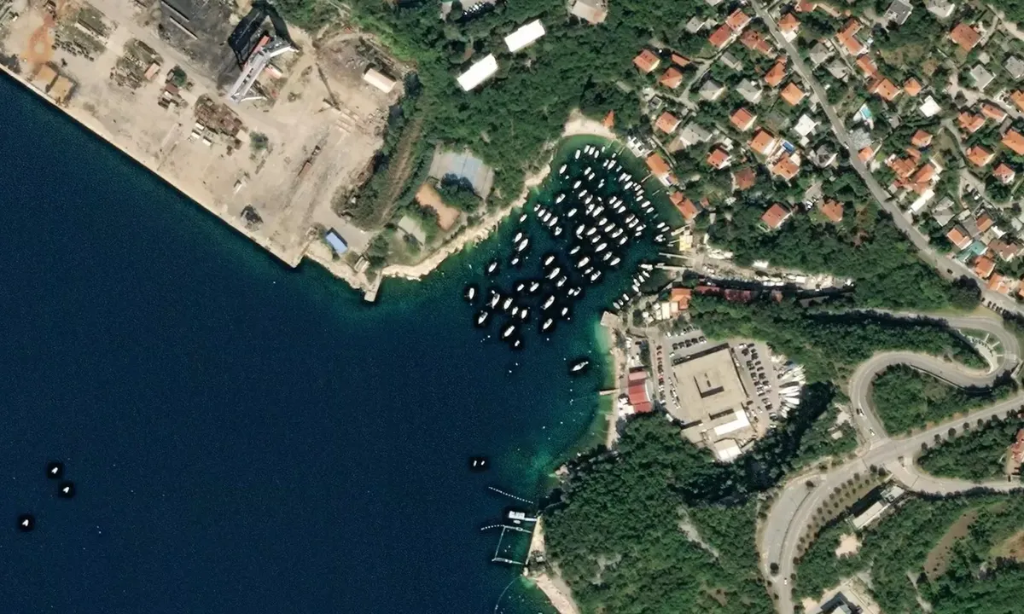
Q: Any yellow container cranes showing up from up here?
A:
No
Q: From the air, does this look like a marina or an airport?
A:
marina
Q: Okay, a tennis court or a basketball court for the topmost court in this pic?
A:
tennis court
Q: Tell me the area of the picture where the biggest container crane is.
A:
top left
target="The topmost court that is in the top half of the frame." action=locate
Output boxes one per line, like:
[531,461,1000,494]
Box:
[427,150,494,201]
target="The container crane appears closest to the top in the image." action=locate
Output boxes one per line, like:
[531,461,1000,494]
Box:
[227,32,303,103]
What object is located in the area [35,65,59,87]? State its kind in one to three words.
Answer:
shed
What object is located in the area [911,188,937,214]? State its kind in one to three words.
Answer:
house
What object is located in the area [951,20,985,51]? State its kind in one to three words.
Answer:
house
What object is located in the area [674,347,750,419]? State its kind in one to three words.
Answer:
building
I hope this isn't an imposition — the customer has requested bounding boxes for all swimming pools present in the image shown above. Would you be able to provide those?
[780,138,797,154]
[858,104,874,121]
